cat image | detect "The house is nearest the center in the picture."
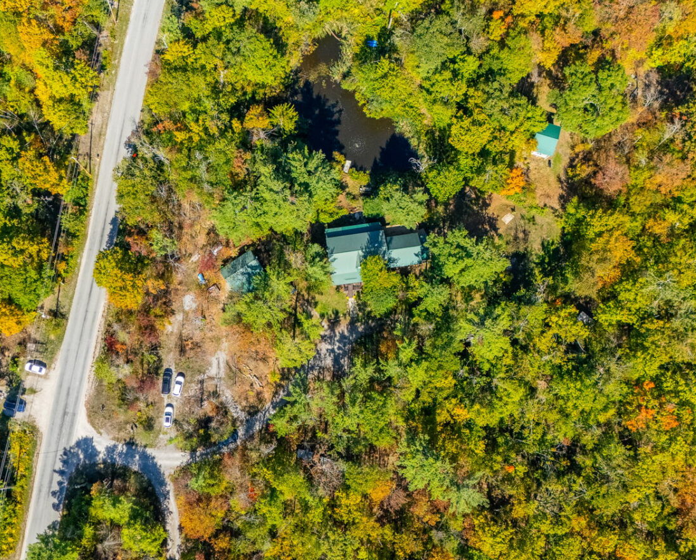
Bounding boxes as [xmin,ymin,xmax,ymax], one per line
[324,222,430,302]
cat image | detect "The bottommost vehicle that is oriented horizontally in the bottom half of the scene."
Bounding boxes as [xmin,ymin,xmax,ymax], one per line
[1,400,29,413]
